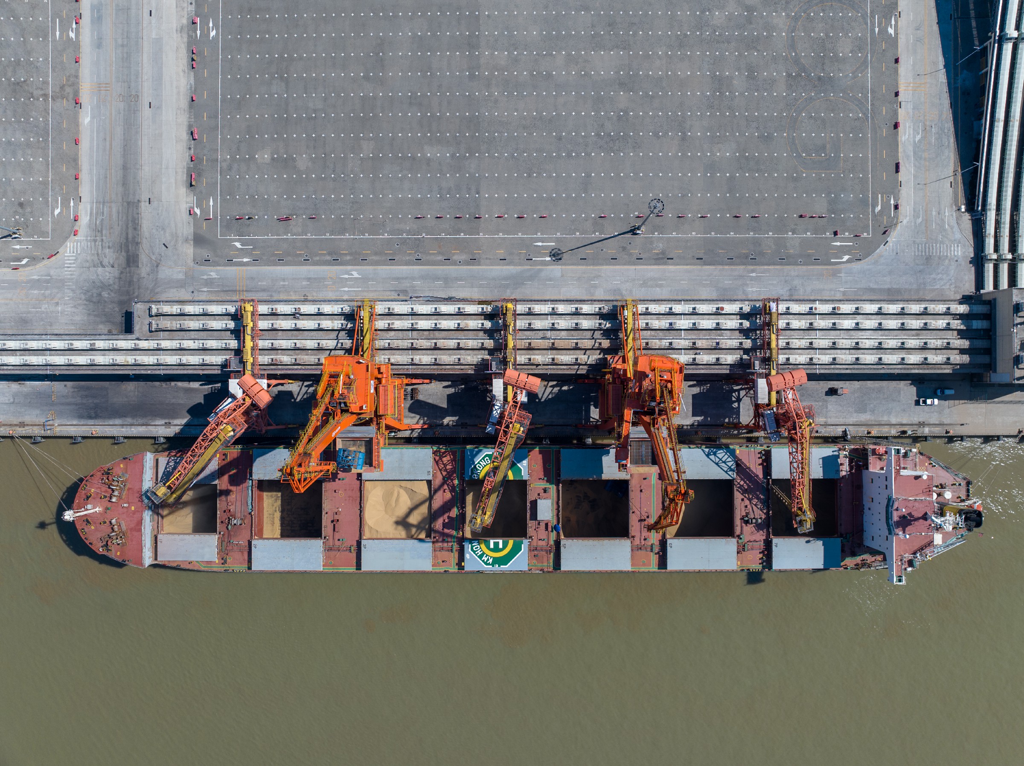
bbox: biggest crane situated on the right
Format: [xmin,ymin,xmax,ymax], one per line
[572,297,695,537]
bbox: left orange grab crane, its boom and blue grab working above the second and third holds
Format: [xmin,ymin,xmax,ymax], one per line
[276,297,432,494]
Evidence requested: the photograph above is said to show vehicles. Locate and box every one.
[920,399,940,406]
[938,388,959,396]
[828,387,852,395]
